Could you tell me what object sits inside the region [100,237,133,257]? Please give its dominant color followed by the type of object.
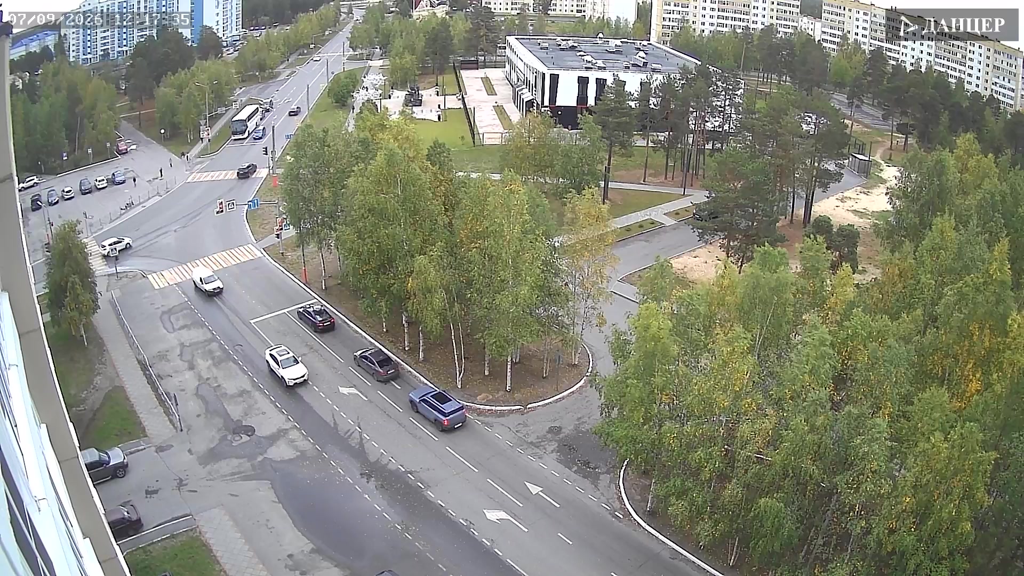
white car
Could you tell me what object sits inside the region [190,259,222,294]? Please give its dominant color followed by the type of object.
white van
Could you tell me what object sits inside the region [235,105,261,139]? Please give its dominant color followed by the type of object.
white bus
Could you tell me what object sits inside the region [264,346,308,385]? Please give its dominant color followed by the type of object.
white car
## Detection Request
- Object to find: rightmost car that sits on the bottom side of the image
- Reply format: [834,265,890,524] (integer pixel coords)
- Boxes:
[409,388,470,434]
